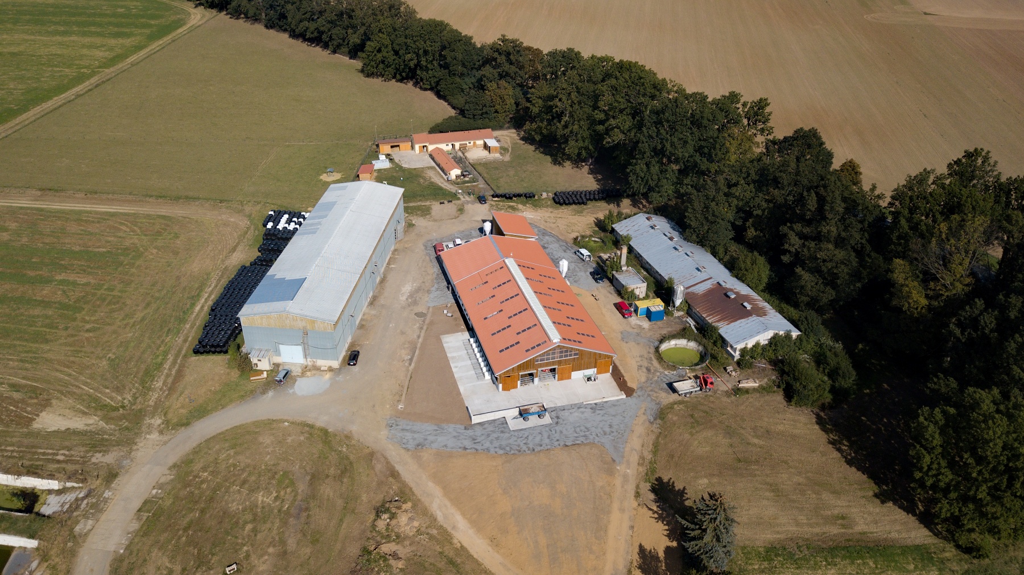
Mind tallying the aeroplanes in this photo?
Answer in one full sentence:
Not a single aeroplane can be seen.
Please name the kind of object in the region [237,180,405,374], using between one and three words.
hangar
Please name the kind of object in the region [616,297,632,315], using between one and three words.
vehicle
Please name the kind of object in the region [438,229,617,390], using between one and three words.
barn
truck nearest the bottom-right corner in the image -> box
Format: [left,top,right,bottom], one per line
[676,372,717,394]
